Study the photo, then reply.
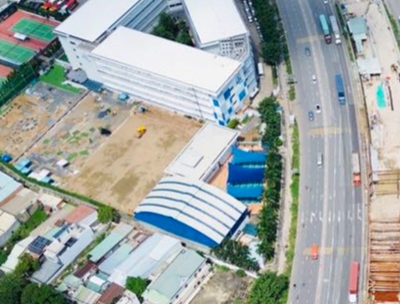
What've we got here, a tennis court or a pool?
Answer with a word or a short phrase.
tennis court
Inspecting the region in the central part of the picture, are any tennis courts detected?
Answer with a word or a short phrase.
No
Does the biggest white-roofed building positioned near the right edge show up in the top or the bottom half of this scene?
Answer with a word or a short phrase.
top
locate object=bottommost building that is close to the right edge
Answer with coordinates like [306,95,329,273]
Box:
[357,57,380,79]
